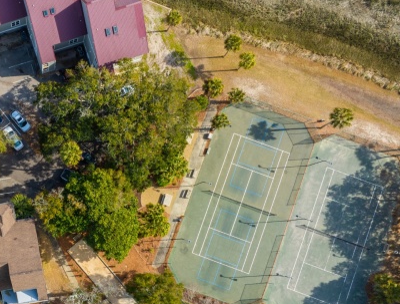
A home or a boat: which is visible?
home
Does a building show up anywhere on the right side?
No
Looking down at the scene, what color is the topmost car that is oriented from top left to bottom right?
blue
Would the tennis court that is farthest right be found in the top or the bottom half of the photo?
bottom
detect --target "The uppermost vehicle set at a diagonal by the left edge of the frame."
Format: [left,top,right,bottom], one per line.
[9,109,31,134]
